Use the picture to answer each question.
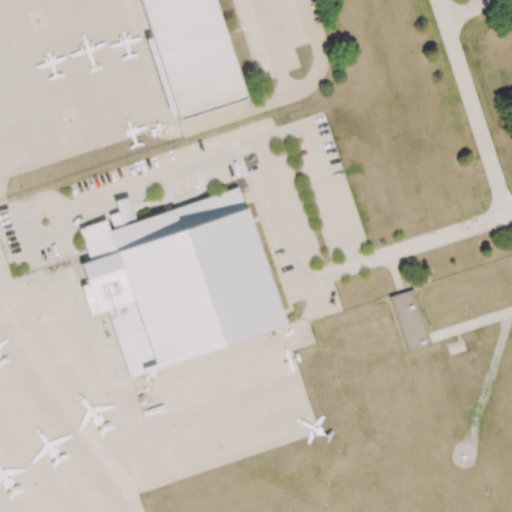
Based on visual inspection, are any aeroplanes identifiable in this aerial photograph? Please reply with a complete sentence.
Yes, the picture does show an aeroplane.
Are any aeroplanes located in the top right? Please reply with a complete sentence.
No, in the top right there is no aeroplane.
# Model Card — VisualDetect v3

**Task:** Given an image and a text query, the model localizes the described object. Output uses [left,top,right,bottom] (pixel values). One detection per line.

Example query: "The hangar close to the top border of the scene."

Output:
[143,0,250,120]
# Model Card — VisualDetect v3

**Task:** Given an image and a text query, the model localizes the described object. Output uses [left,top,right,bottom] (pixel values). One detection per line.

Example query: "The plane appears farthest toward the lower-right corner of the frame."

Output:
[296,416,335,446]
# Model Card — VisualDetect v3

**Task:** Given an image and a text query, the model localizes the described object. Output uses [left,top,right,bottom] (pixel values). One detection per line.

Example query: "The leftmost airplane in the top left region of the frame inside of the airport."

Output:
[36,50,67,78]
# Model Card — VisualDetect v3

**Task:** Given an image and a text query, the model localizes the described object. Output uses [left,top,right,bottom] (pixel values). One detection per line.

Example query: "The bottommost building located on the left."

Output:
[80,186,289,378]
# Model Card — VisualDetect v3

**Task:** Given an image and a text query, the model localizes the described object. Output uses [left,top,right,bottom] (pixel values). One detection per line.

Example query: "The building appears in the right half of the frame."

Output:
[390,290,431,352]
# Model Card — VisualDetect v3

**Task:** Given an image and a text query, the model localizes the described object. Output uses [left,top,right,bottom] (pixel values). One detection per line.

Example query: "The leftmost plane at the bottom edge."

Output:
[0,468,26,501]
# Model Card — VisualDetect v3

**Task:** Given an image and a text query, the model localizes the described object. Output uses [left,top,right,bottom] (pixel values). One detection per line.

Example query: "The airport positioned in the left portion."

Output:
[0,0,316,512]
